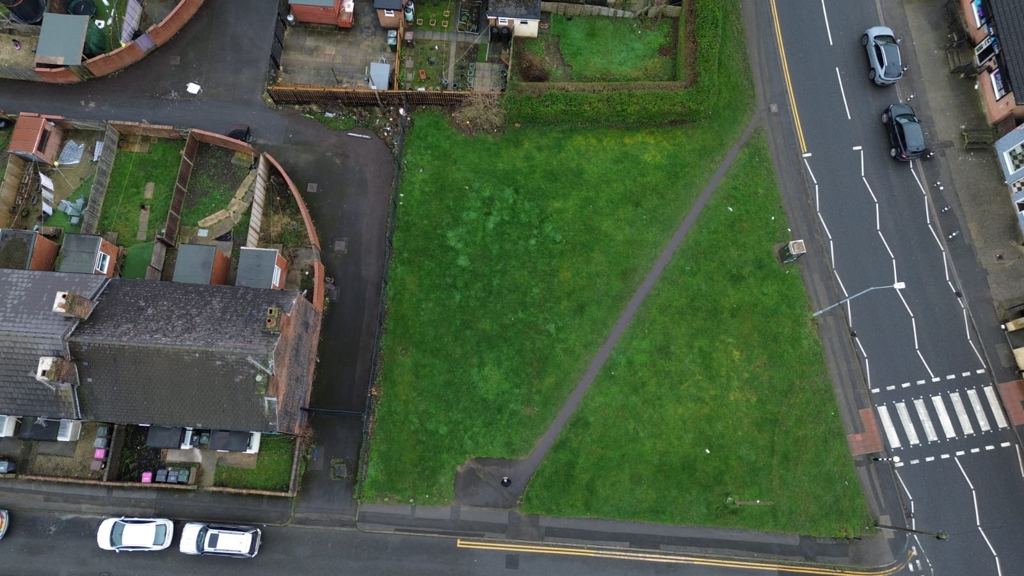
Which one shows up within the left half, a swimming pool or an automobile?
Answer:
automobile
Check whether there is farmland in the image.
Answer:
No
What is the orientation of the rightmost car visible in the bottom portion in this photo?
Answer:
from left to right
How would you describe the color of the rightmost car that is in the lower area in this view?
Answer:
white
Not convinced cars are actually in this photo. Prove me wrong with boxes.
[0,509,14,543]
[861,28,903,86]
[96,516,176,554]
[879,104,923,162]
[177,520,264,561]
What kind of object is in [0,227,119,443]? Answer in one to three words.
house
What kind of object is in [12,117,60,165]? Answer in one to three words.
shed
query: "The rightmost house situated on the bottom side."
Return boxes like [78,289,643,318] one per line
[69,244,321,451]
